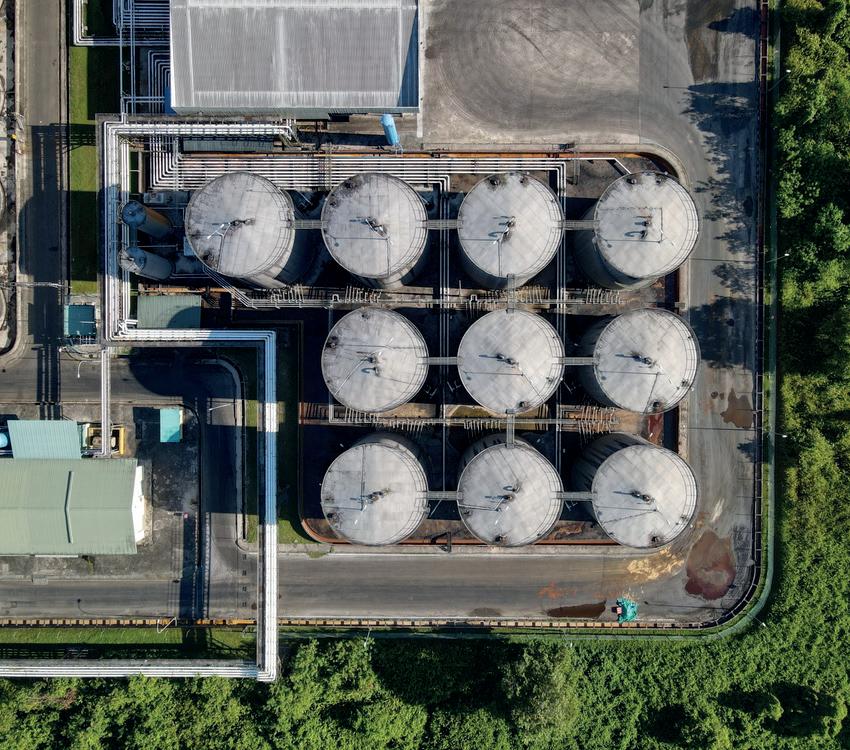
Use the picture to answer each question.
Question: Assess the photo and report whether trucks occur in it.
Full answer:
No, the photo shows no truck.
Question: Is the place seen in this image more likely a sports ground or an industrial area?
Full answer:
The picture captures an industrial area.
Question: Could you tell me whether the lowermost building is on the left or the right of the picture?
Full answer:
It is on the left.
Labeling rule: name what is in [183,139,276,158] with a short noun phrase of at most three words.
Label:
shed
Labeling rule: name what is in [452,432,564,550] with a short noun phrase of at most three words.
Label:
storage tank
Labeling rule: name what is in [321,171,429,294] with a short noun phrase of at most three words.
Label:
storage tank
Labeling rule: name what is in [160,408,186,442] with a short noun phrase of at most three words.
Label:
shed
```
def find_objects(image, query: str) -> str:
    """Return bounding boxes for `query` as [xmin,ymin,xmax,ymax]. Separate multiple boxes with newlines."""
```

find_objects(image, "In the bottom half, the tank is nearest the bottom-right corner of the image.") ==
[568,433,701,551]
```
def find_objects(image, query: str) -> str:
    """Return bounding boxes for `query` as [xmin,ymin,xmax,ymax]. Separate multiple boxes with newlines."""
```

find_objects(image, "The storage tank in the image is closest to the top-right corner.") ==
[570,170,702,292]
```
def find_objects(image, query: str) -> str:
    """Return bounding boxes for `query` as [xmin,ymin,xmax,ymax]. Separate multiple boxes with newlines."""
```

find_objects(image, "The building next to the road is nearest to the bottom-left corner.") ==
[0,458,145,555]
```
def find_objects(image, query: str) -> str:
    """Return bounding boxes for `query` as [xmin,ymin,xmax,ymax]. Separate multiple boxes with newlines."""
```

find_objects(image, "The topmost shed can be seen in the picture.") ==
[165,0,418,122]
